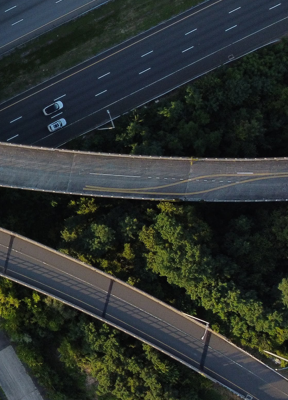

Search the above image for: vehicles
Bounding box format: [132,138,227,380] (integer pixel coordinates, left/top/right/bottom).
[42,101,63,114]
[46,118,67,132]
